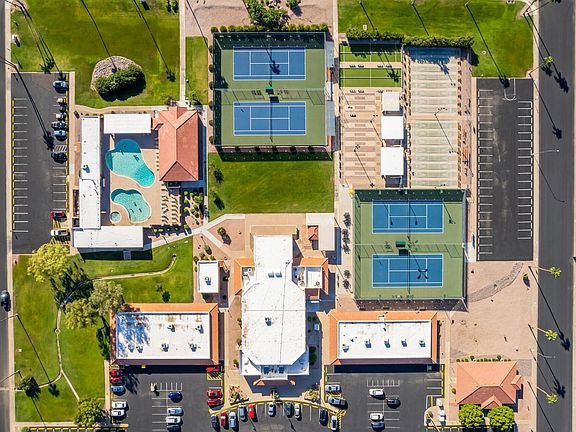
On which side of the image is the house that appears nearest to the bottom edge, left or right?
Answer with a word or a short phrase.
right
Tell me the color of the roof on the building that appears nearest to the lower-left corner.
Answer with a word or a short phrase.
white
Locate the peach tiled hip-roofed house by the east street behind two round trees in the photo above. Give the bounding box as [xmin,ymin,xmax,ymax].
[456,361,521,406]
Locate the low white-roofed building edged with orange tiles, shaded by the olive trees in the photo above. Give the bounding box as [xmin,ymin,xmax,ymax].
[110,304,219,365]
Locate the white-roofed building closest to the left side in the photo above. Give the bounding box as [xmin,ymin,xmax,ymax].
[74,116,146,248]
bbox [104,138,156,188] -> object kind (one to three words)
swimming pool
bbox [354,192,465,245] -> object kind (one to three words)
tennis court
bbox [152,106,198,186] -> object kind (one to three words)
building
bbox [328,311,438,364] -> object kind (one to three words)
building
